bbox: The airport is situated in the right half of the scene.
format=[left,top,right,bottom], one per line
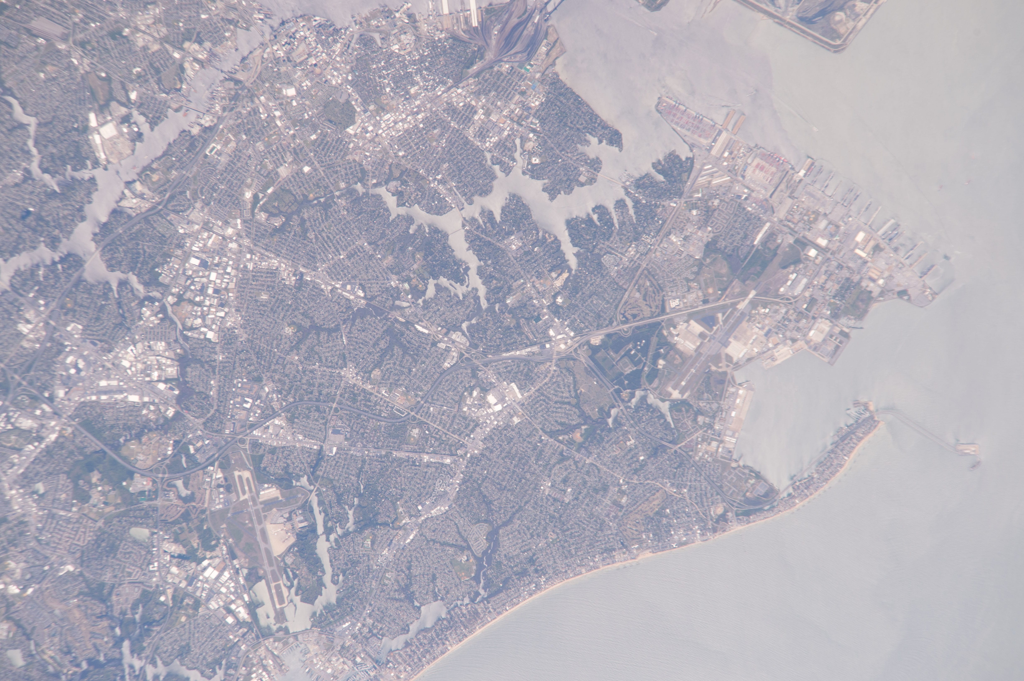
[653,271,770,411]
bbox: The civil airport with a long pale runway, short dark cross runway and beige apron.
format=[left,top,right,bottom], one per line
[210,451,309,625]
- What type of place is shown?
port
